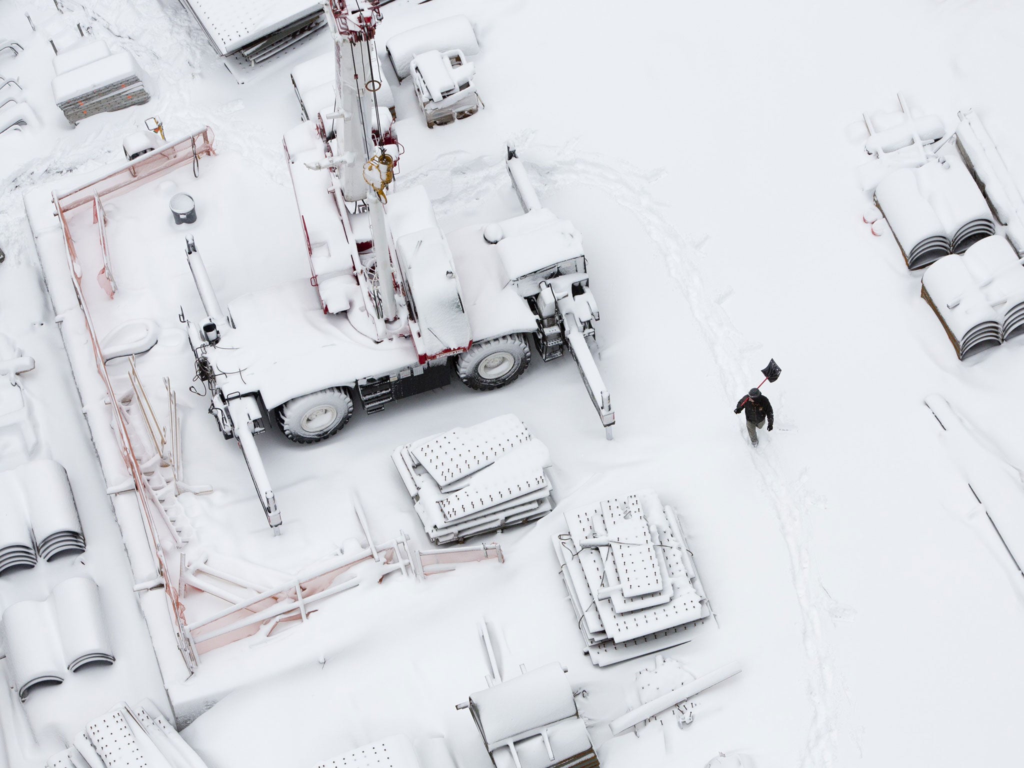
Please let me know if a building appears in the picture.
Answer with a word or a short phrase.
No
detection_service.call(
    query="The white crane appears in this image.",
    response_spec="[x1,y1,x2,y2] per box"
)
[179,0,617,546]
